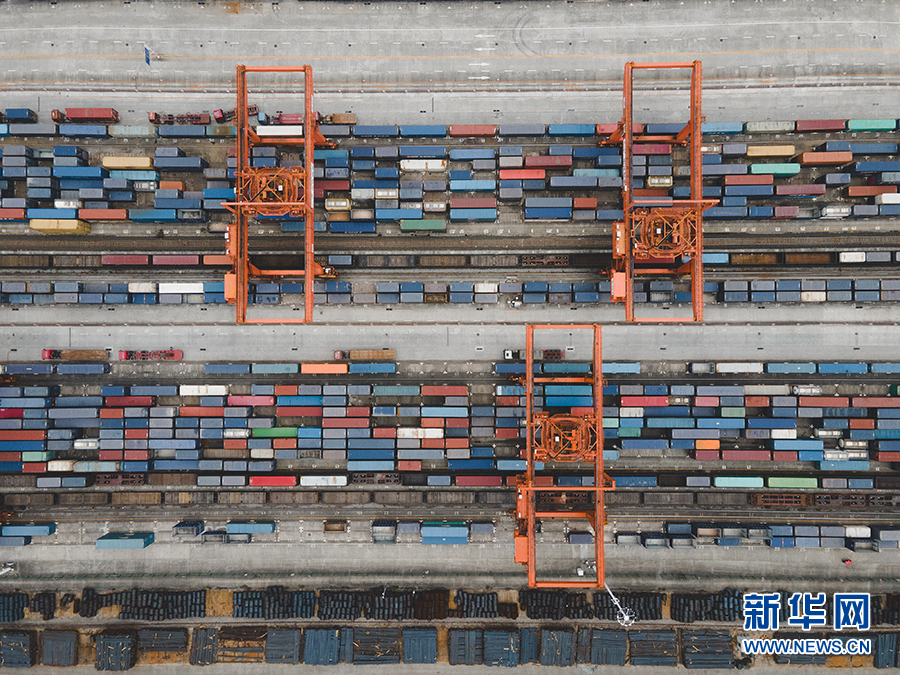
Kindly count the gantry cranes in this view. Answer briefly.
3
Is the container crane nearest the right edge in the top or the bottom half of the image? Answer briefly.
top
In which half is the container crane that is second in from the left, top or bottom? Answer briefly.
bottom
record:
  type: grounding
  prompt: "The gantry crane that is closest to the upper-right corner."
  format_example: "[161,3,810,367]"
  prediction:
[595,62,720,322]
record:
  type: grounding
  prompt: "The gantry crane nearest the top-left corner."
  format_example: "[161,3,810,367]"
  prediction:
[215,65,345,323]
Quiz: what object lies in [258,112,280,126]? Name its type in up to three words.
vehicle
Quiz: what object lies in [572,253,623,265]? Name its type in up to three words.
rail car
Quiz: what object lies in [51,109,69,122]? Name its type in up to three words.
vehicle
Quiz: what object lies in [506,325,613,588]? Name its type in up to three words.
container crane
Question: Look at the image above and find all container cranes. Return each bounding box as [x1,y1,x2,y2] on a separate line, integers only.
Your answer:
[215,65,345,323]
[595,62,720,322]
[506,325,613,588]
